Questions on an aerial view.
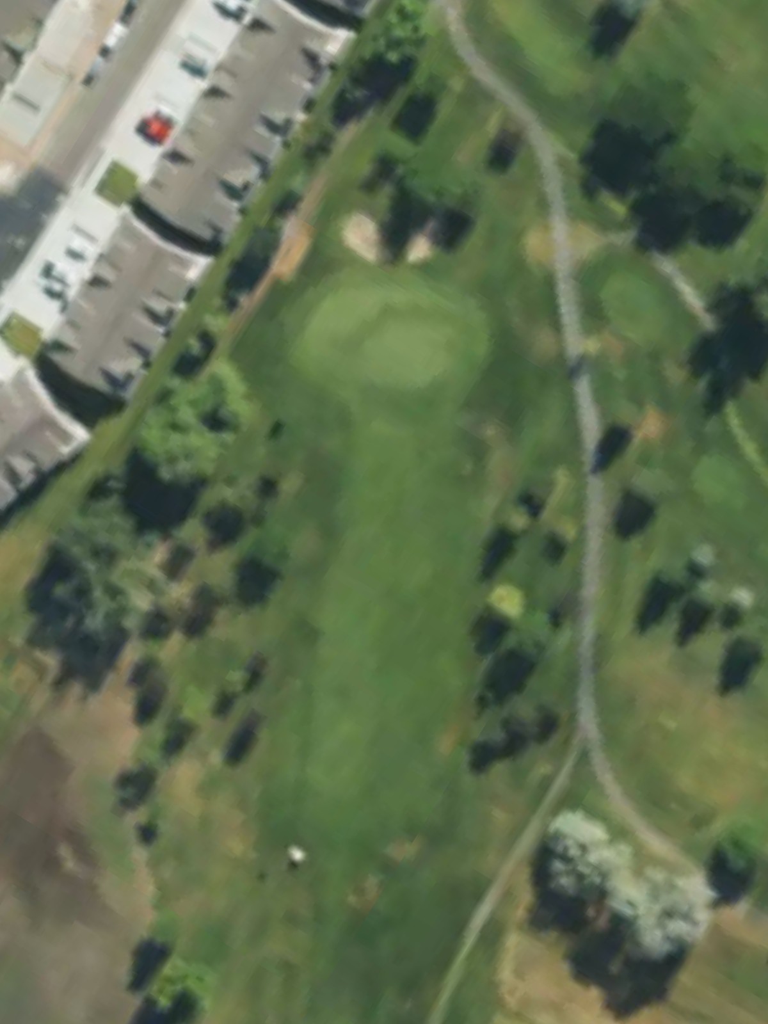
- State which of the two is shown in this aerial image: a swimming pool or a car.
car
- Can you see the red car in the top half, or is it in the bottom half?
top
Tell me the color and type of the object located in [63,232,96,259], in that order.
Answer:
white car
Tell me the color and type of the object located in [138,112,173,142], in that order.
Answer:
red car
